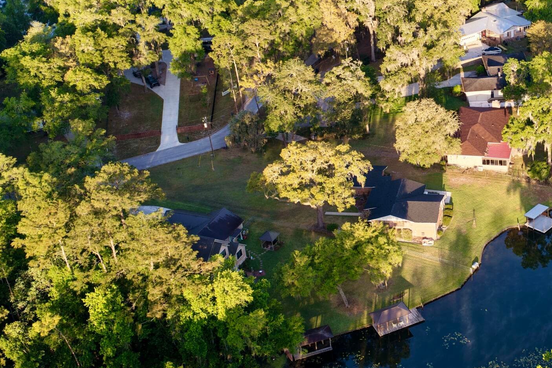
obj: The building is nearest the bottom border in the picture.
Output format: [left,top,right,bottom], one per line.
[296,325,334,365]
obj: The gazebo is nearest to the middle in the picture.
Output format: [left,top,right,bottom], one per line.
[260,231,280,247]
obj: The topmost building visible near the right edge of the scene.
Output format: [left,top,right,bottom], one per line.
[455,2,536,45]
